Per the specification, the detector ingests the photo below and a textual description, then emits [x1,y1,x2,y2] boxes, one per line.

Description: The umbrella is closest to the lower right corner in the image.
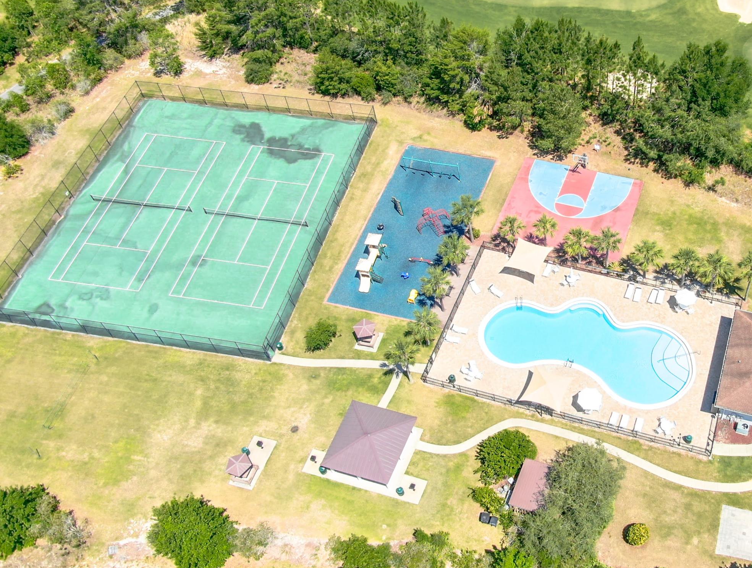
[576,389,603,412]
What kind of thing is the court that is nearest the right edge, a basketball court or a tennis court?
basketball court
